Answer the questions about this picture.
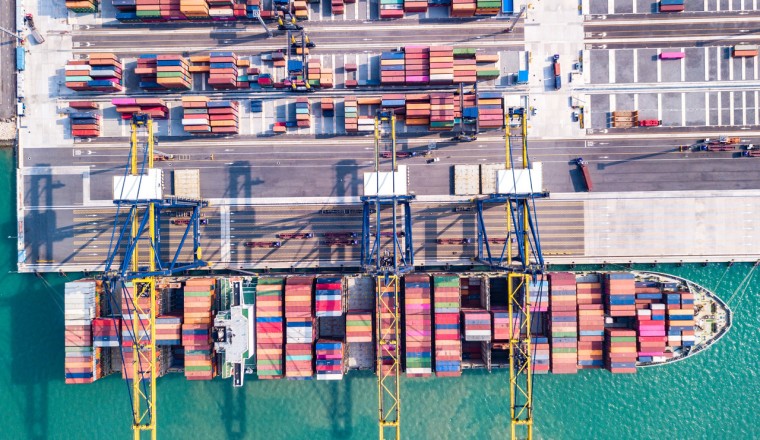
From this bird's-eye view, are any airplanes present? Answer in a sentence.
No, I can see no airplane in this picture.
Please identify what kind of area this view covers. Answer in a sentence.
This looks like a port.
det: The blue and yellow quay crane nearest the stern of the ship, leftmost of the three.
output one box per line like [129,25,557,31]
[98,113,220,440]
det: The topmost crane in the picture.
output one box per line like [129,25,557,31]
[269,0,299,31]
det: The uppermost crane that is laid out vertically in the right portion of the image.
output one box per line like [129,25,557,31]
[449,78,479,141]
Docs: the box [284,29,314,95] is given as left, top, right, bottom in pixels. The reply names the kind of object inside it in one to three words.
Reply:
crane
